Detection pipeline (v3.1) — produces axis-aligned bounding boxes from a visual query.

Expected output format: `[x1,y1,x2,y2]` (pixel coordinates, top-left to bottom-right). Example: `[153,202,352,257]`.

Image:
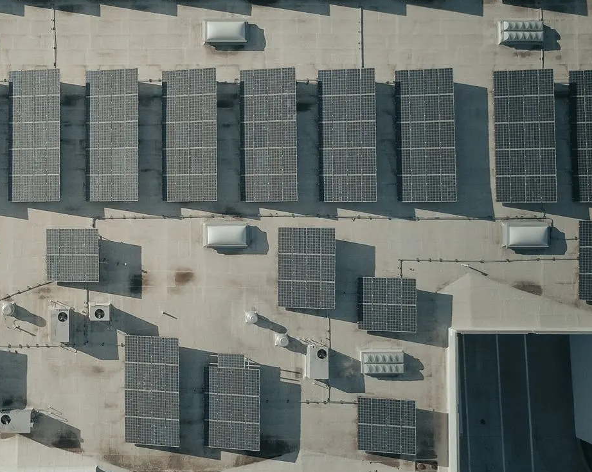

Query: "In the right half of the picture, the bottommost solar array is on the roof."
[358,397,416,455]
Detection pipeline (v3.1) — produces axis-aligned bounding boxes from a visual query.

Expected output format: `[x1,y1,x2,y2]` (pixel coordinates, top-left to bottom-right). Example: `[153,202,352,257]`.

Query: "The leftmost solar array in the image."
[8,68,60,202]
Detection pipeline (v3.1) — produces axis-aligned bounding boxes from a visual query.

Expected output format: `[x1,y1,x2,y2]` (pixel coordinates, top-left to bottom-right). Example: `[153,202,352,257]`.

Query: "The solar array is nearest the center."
[278,228,335,309]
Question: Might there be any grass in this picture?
No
